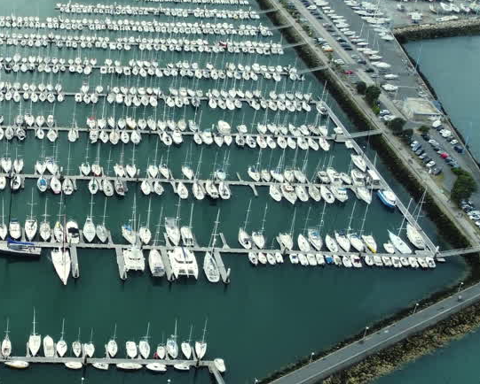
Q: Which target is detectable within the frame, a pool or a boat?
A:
boat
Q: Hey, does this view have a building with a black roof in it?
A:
No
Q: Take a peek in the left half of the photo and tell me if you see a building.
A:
No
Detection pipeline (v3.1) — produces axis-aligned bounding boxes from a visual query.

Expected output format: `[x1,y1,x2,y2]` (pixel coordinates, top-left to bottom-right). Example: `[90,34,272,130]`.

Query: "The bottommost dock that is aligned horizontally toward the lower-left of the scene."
[0,342,213,367]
